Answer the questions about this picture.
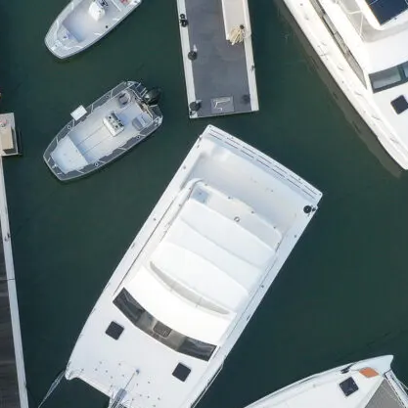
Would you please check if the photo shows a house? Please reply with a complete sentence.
No, there appears to be no house in this shot.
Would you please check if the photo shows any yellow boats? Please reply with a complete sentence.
No, no yellow boat is visible in the view.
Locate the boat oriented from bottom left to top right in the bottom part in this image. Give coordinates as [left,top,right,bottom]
[39,125,322,408]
